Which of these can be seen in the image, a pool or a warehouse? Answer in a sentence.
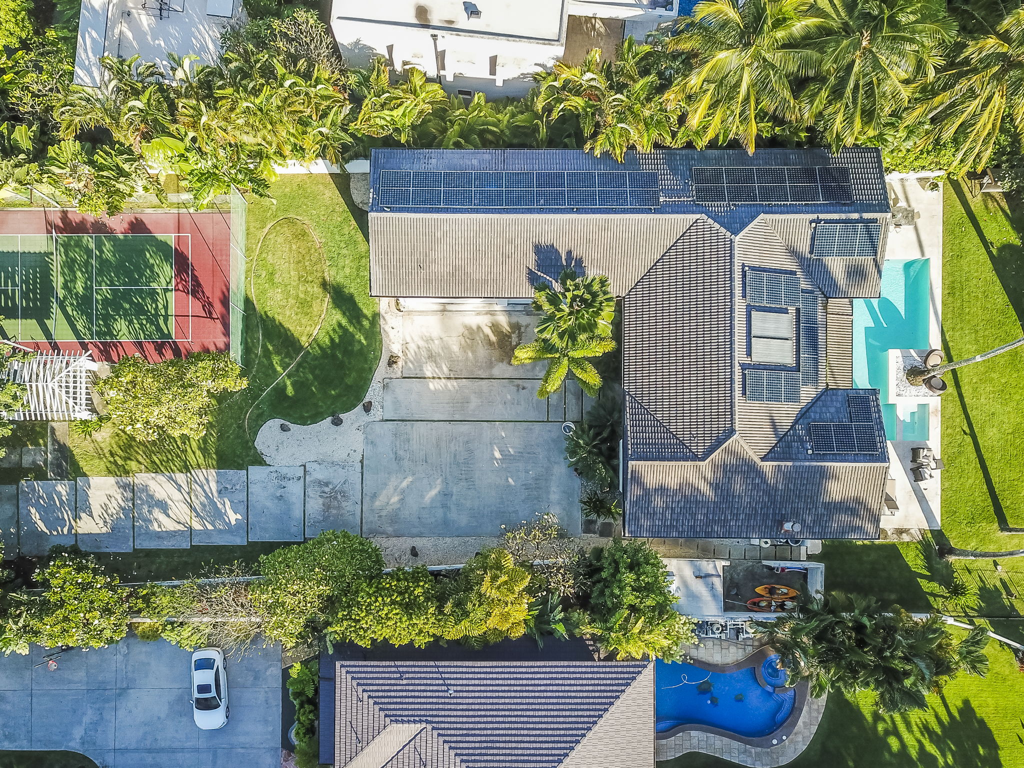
It is a pool that can be seen here.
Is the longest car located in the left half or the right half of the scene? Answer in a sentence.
The longest car is on the left side of the image.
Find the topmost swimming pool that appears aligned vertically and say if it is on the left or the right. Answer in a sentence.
It is on the right.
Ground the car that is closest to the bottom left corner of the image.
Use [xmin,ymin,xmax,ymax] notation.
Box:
[185,649,229,734]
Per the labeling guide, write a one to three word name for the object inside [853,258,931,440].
swimming pool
